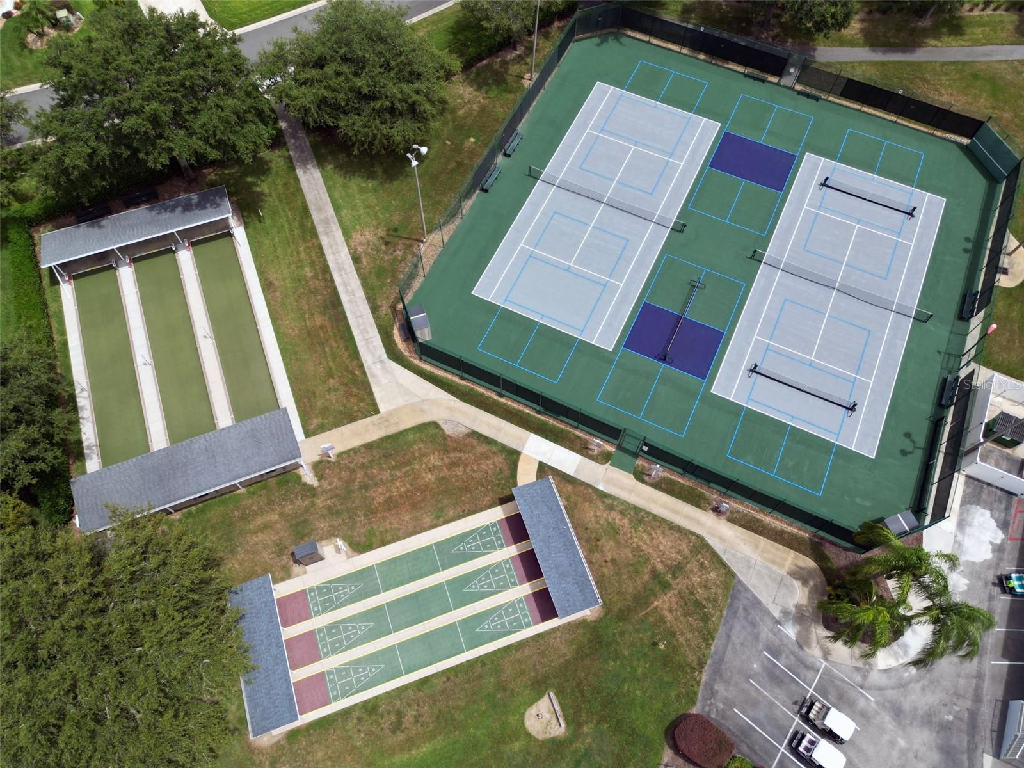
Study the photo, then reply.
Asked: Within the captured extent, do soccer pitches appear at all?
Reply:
No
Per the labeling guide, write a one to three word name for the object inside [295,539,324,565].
shed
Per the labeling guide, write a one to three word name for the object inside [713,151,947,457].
tennis court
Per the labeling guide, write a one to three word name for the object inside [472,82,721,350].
tennis court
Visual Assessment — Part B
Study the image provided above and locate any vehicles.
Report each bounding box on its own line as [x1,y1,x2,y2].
[983,572,1024,599]
[796,695,856,748]
[784,727,846,768]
